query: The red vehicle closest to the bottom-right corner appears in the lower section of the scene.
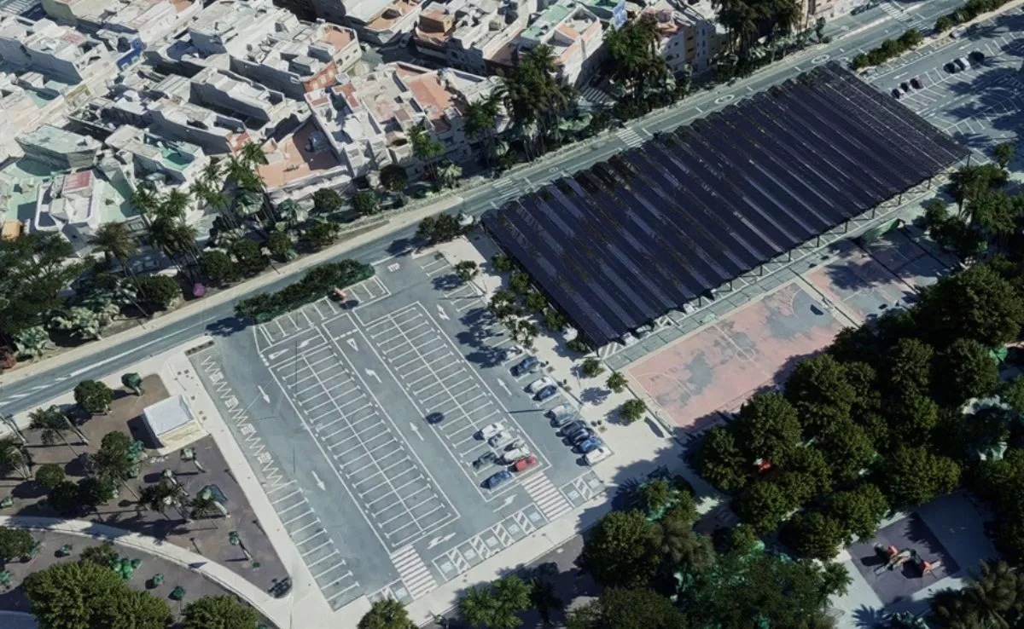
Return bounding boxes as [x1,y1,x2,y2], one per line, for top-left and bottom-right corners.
[512,457,539,475]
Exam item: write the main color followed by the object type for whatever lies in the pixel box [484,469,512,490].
blue car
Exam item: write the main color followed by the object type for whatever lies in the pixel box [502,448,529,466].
white car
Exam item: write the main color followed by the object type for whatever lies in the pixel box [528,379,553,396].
white car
